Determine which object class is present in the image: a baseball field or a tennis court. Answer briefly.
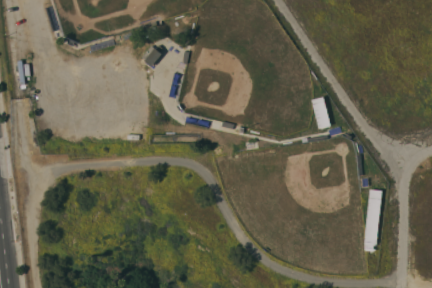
baseball field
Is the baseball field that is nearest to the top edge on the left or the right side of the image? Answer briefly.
left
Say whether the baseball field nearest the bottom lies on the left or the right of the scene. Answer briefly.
right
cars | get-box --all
[16,18,26,26]
[8,6,18,12]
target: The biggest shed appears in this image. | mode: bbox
[364,190,382,250]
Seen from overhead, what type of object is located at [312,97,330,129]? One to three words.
shed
